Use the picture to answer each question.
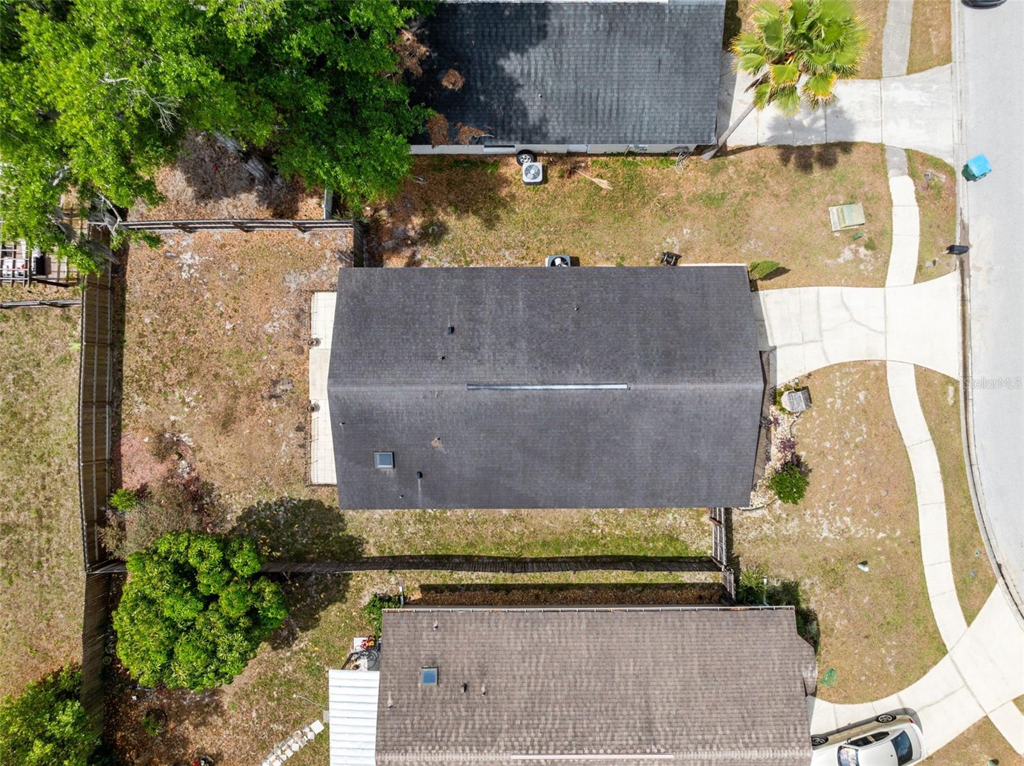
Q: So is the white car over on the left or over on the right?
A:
right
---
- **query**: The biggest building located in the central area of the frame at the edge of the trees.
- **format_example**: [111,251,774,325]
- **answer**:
[327,266,764,510]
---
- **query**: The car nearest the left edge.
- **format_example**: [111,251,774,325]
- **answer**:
[813,713,928,766]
